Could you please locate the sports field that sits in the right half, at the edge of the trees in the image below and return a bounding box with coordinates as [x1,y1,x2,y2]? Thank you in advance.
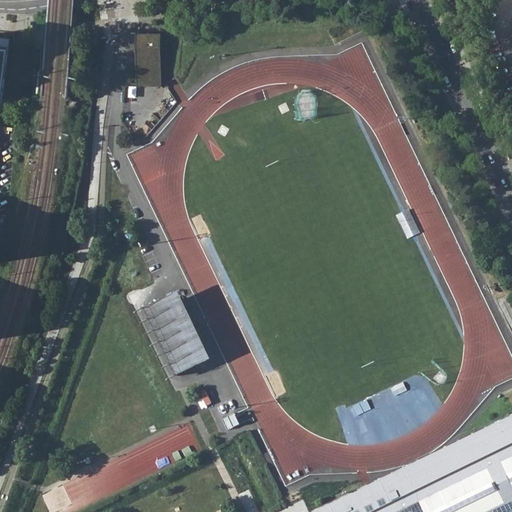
[184,84,464,445]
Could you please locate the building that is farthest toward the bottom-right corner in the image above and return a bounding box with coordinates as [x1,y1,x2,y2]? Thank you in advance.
[330,415,512,512]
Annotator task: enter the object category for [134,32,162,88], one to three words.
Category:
building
